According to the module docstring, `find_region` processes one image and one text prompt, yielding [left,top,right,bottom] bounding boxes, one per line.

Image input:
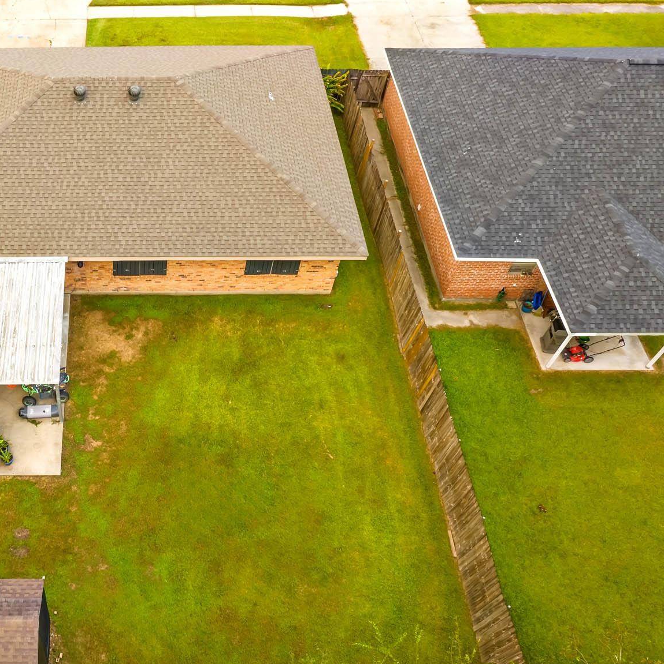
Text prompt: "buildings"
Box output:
[0,577,53,664]
[0,45,369,295]
[383,48,664,369]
